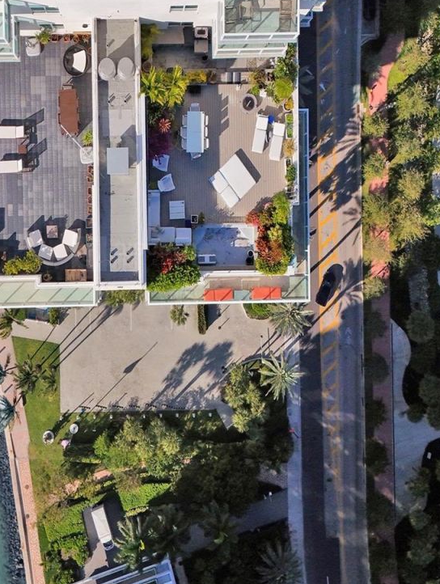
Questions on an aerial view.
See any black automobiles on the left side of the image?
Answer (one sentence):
No, there's no black automobile to be seen on the left side of the image.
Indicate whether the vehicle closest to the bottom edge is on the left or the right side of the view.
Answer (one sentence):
The vehicle closest to the bottom edge is on the left side of the image.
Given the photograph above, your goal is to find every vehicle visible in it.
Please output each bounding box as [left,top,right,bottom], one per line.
[90,501,115,549]
[361,0,376,21]
[315,266,342,304]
